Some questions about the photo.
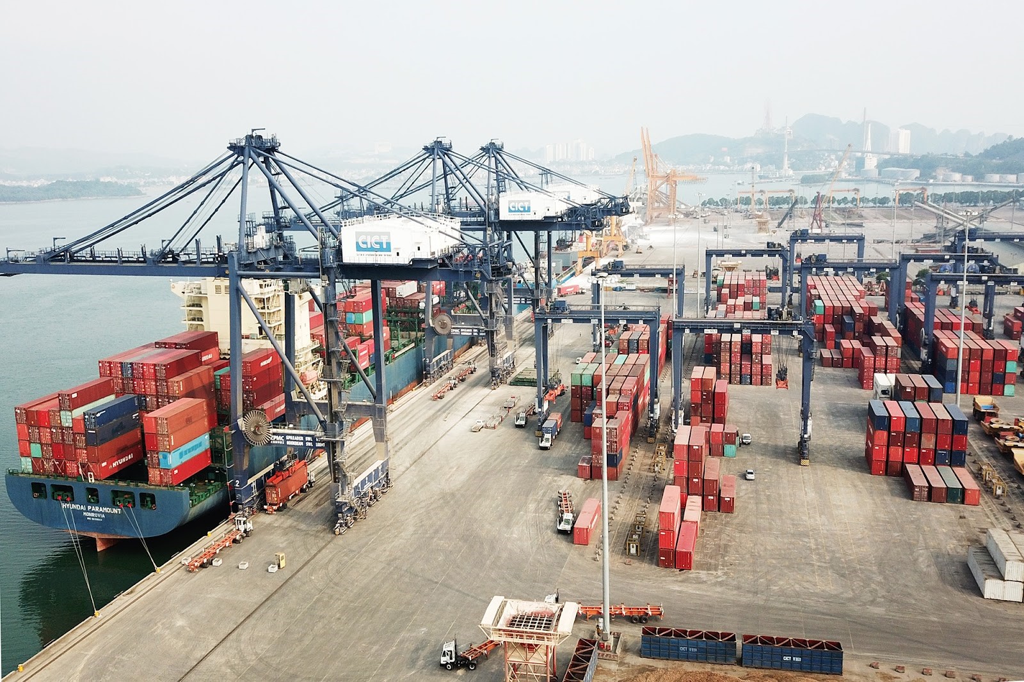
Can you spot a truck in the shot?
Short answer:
Yes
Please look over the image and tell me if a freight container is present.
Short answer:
Yes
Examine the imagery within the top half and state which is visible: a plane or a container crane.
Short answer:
container crane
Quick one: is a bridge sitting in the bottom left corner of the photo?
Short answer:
No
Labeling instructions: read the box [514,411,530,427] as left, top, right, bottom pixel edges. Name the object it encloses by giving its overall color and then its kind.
white vehicle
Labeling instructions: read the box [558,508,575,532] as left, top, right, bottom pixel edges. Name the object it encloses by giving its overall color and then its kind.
white vehicle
